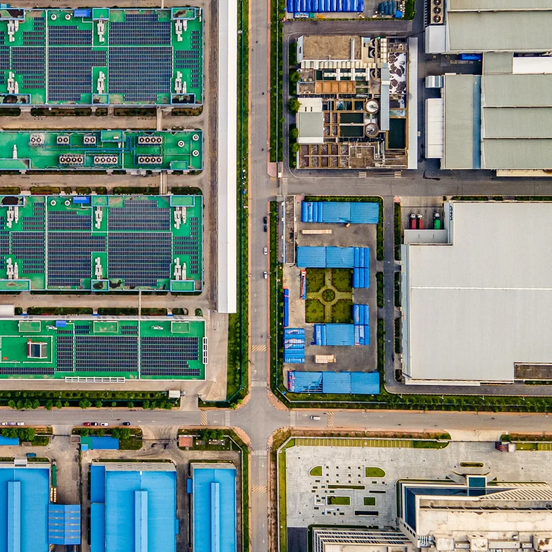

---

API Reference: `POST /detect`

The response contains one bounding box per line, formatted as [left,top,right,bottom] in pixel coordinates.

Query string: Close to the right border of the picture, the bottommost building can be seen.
[394,473,552,552]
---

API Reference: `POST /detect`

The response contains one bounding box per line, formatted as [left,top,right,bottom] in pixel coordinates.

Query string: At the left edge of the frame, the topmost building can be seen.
[0,7,204,110]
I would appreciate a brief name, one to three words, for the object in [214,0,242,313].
shed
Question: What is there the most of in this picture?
buildings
